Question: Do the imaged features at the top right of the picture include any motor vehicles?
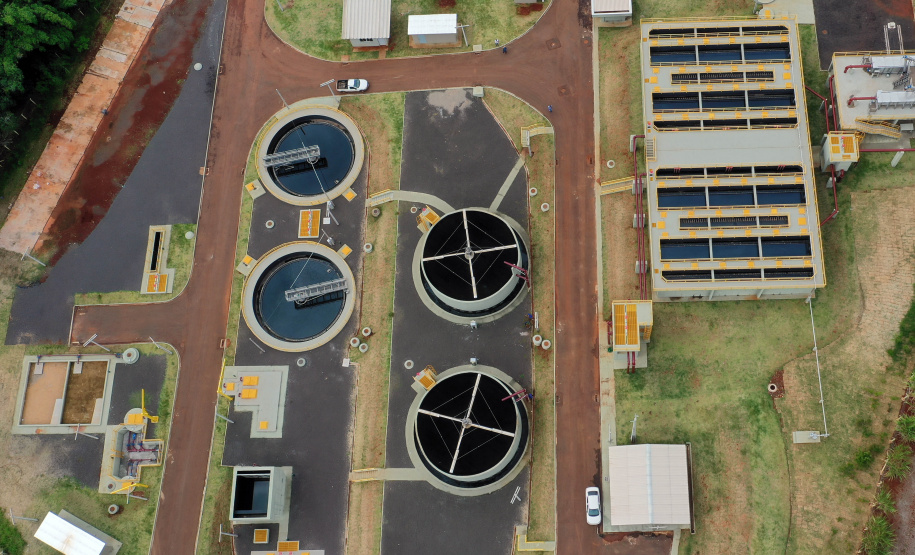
No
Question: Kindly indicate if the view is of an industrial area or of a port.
industrial area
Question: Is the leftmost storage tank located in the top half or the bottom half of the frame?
bottom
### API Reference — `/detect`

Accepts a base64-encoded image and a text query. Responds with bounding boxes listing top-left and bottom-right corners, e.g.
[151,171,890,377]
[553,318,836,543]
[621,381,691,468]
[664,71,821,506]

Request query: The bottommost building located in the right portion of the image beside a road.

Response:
[603,444,701,555]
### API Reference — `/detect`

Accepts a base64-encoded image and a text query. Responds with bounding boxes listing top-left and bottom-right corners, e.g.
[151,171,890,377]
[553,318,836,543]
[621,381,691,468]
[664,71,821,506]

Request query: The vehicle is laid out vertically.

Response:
[584,487,603,526]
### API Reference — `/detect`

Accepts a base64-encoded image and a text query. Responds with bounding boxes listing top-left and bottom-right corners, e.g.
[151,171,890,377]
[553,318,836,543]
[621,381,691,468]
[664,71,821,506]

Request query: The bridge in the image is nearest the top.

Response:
[259,144,319,168]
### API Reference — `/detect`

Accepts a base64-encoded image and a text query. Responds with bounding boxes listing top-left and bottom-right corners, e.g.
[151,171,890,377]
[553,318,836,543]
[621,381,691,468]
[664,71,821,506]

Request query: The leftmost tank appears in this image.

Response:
[230,467,283,523]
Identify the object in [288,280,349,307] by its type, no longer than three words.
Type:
bridge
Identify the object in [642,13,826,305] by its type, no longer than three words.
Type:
storage tank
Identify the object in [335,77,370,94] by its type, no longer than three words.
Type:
vehicle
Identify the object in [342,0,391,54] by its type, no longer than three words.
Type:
house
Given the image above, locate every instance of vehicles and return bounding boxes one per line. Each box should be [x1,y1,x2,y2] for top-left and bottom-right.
[584,487,603,526]
[335,77,370,94]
